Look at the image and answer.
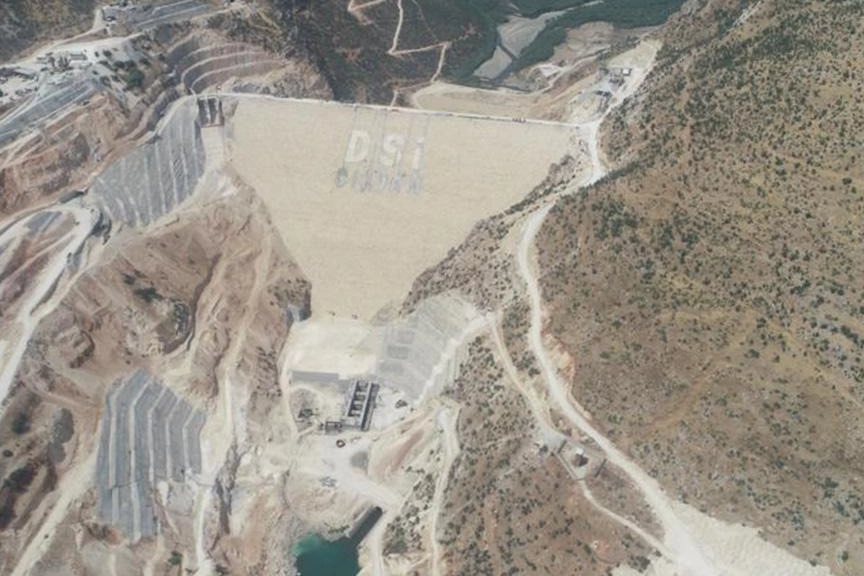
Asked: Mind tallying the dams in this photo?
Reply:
one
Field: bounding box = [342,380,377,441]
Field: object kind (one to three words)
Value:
building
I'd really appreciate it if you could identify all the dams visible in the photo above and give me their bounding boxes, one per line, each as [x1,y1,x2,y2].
[214,94,597,319]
